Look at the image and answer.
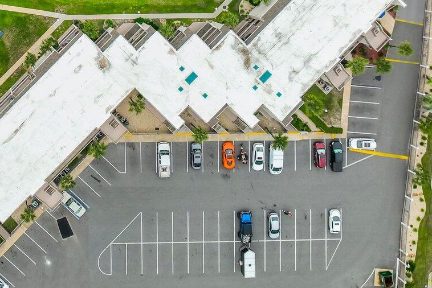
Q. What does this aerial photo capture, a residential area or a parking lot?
parking lot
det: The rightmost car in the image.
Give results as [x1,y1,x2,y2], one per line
[348,137,376,151]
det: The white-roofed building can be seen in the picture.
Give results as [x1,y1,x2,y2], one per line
[0,0,406,223]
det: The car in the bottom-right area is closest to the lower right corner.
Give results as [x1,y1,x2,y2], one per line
[327,207,342,233]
